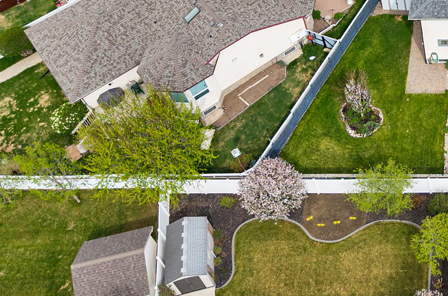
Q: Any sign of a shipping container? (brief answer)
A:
No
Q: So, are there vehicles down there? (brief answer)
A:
No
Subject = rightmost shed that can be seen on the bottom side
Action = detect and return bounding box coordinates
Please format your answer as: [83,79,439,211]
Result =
[163,215,213,294]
